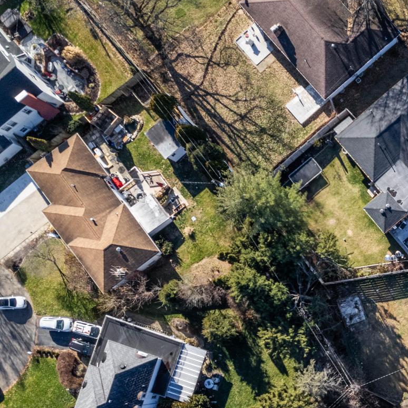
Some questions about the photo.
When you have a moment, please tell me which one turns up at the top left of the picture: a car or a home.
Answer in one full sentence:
There is a home at the top left of the picture.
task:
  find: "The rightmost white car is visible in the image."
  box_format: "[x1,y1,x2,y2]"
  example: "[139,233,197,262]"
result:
[71,320,100,341]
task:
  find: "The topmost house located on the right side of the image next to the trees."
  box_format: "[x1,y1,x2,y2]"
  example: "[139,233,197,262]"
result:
[241,0,401,102]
